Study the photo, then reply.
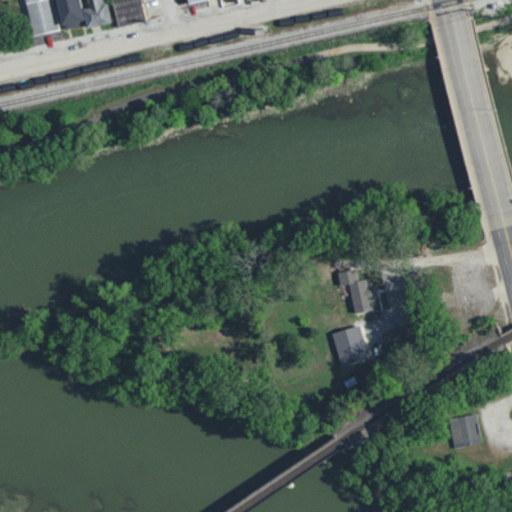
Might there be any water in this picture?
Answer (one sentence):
Yes, there is water in the image.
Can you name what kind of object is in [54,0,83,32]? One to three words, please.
house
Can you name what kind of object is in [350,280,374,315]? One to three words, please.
house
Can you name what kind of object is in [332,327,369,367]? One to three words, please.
building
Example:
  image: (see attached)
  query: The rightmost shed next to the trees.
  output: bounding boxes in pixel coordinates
[450,414,482,448]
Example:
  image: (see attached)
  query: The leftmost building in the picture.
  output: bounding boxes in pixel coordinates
[26,0,63,38]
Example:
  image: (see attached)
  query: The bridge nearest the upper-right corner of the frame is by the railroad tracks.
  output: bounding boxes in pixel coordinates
[429,10,512,220]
